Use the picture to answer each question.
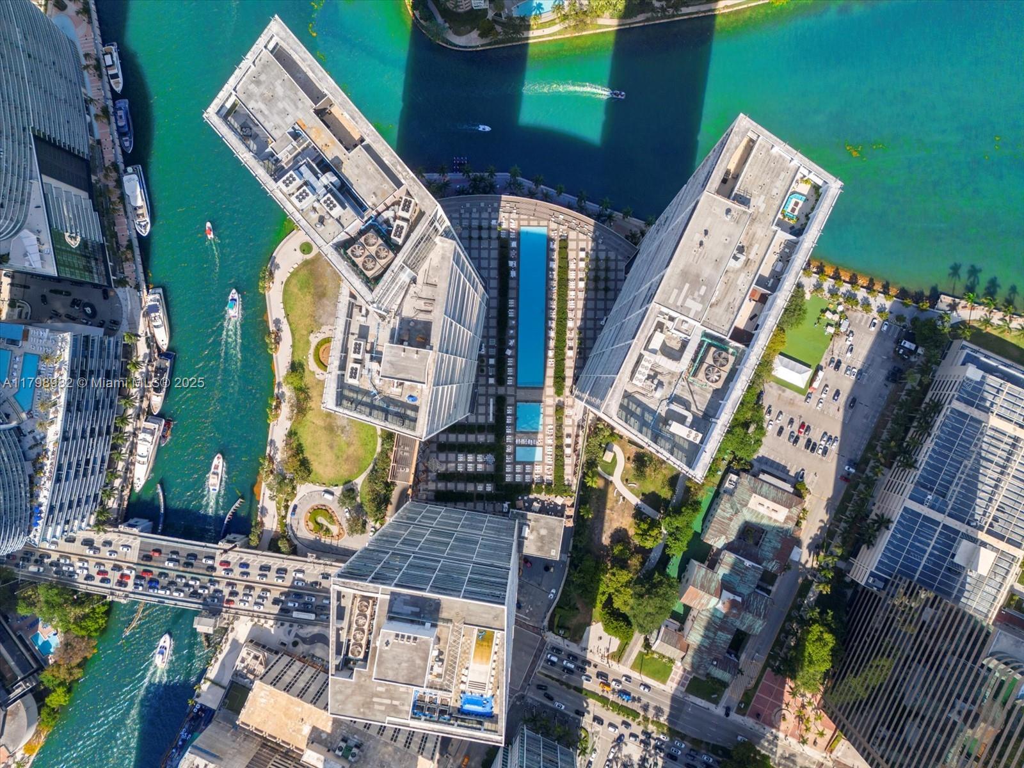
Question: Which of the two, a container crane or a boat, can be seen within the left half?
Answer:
boat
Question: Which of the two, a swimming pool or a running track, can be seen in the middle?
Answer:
swimming pool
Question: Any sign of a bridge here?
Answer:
Yes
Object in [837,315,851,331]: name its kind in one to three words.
vehicle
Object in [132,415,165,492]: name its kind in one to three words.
boat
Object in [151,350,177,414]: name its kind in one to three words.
boat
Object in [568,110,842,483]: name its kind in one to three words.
building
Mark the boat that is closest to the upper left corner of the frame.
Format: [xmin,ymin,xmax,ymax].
[105,42,125,94]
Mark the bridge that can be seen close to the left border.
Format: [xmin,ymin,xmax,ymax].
[3,529,339,627]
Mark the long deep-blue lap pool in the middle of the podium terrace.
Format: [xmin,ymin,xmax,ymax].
[515,226,549,388]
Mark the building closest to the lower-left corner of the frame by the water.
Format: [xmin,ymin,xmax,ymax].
[0,686,47,756]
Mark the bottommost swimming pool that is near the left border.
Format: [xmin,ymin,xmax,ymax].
[31,630,60,656]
